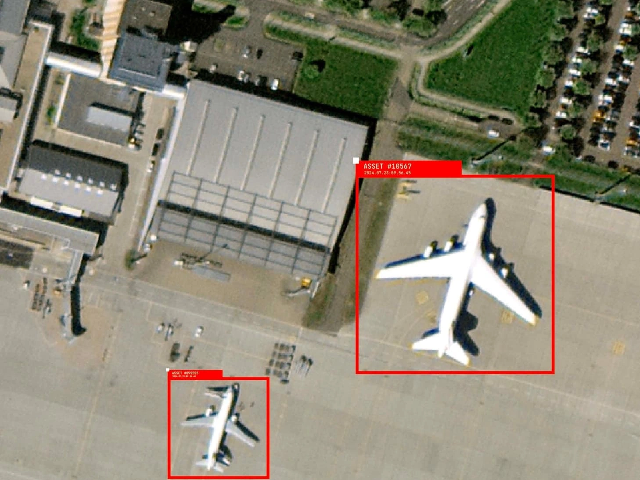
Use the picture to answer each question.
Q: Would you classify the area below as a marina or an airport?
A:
airport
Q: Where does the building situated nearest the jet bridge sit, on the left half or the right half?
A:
left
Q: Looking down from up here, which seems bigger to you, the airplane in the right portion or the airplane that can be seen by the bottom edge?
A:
the airplane in the right portion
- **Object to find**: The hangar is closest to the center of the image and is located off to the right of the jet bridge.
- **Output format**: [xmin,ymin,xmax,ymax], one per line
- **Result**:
[137,78,368,299]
